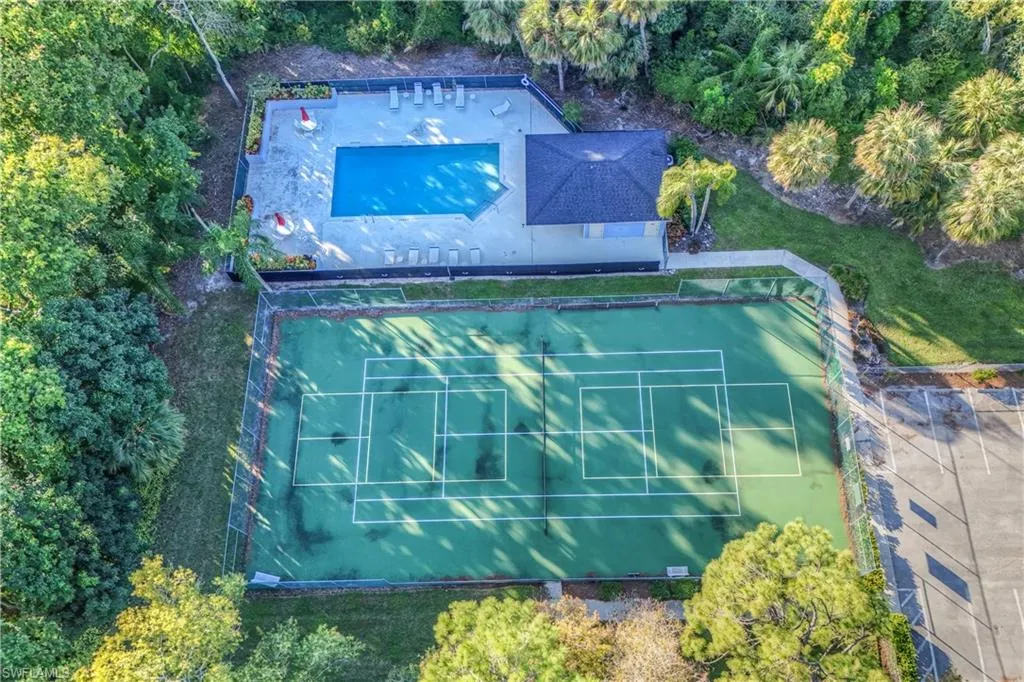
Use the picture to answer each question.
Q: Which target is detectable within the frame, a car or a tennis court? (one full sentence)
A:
There is a tennis court in the scene.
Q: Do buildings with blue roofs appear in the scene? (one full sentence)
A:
Yes, looking at the shot, I can spot a building with a blue roof.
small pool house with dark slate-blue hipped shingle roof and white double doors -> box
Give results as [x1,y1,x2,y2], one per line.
[525,129,669,243]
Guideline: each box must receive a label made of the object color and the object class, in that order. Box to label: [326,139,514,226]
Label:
blue swimming pool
